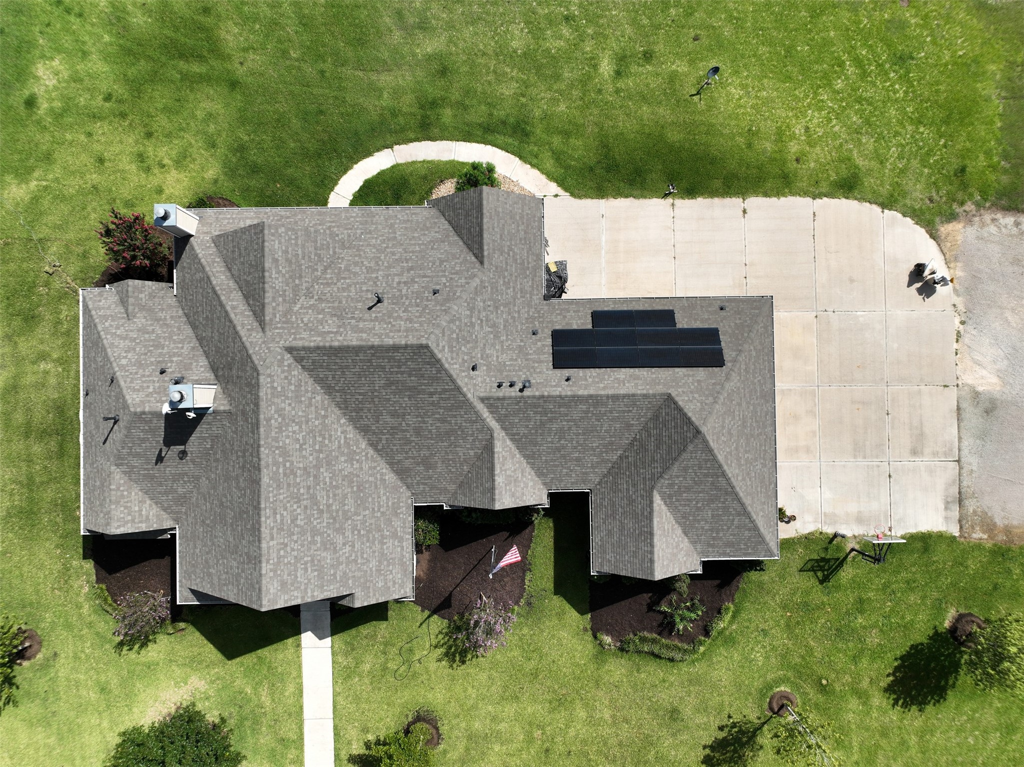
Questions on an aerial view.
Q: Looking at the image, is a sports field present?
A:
No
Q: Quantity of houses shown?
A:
1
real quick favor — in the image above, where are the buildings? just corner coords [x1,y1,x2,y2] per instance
[81,186,779,611]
